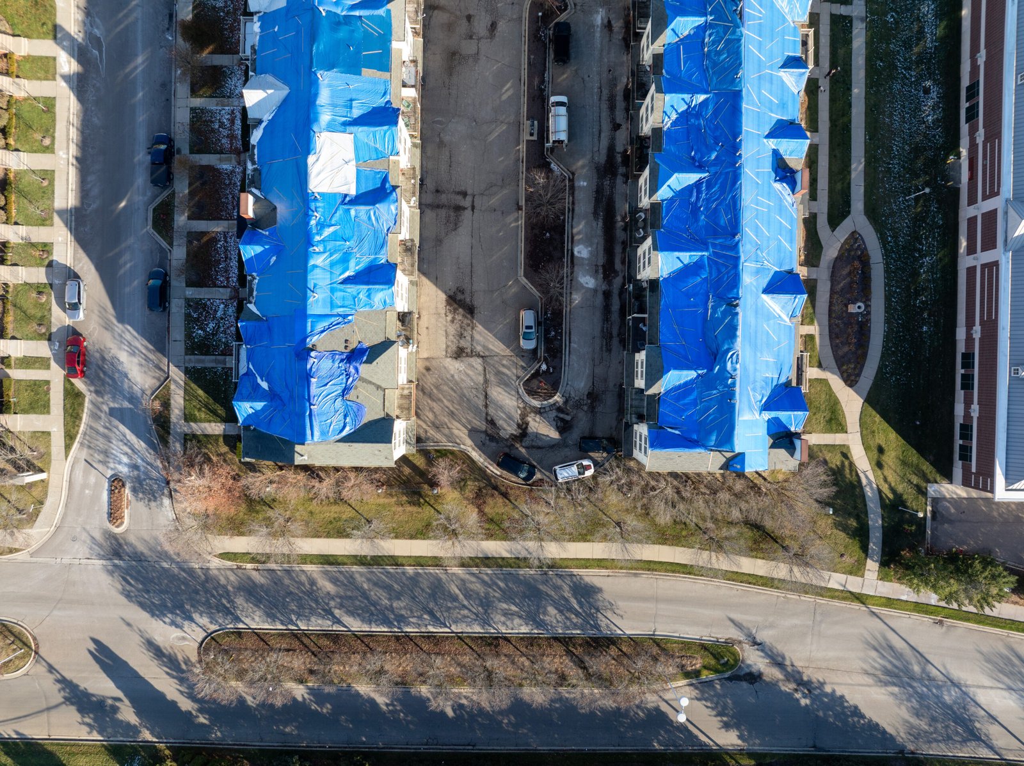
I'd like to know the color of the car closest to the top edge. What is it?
black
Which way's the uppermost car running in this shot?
from top to bottom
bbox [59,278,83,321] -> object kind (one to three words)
car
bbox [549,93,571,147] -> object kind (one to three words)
truck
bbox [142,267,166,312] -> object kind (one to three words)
car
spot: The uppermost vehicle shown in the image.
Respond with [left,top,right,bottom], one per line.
[551,17,573,63]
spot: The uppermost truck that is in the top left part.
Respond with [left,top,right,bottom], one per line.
[145,131,170,185]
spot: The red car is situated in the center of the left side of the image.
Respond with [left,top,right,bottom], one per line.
[60,335,84,378]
